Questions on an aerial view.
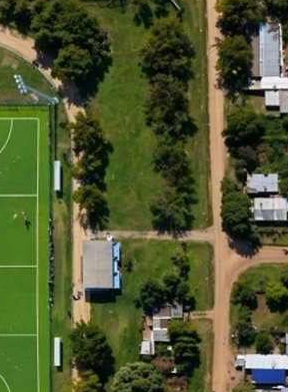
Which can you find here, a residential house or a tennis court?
residential house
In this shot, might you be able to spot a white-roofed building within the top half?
Yes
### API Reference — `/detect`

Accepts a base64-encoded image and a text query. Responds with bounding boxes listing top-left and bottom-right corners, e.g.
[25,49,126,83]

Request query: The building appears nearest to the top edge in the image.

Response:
[251,23,282,79]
